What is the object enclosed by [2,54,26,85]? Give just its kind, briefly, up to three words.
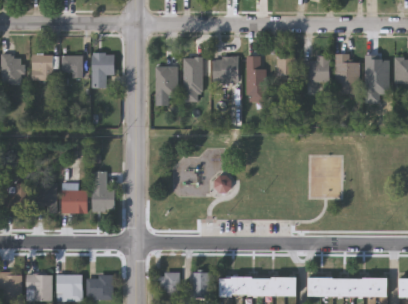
house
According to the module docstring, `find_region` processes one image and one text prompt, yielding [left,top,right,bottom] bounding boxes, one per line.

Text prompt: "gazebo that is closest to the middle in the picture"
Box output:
[215,176,232,194]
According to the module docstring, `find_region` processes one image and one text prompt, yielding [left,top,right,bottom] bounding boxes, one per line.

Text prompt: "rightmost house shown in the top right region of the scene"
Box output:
[396,58,408,84]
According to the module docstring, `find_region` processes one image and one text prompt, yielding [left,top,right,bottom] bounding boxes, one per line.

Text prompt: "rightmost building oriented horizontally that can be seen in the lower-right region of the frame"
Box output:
[308,278,388,298]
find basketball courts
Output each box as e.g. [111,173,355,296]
[309,156,344,200]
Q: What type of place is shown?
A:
residential area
